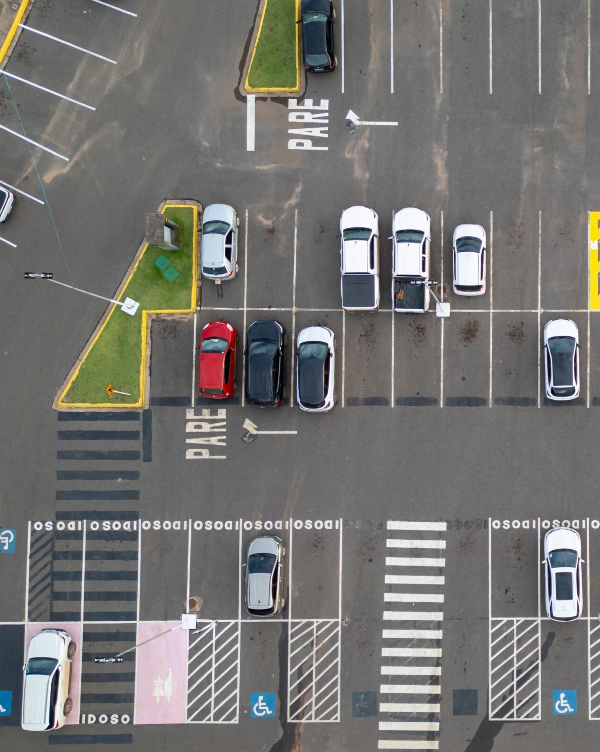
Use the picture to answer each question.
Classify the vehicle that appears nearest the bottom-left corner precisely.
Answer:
car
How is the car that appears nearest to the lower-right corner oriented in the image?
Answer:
up and down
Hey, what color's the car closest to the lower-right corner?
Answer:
white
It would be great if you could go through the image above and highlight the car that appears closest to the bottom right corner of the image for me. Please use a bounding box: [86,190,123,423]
[541,527,586,621]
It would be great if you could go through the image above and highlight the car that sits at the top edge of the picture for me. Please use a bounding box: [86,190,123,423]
[296,0,340,74]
